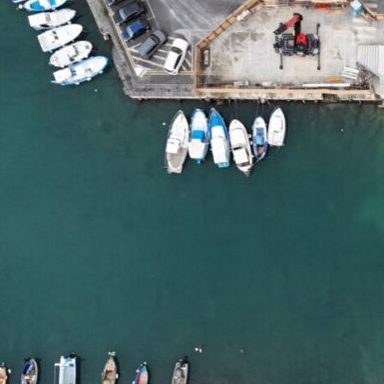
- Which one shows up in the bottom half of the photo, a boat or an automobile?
boat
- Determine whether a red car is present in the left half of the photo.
No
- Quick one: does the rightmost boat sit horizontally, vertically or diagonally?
vertically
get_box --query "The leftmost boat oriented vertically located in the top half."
[165,100,190,175]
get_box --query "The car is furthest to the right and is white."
[165,40,190,74]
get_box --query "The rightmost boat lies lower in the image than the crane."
[268,100,288,147]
